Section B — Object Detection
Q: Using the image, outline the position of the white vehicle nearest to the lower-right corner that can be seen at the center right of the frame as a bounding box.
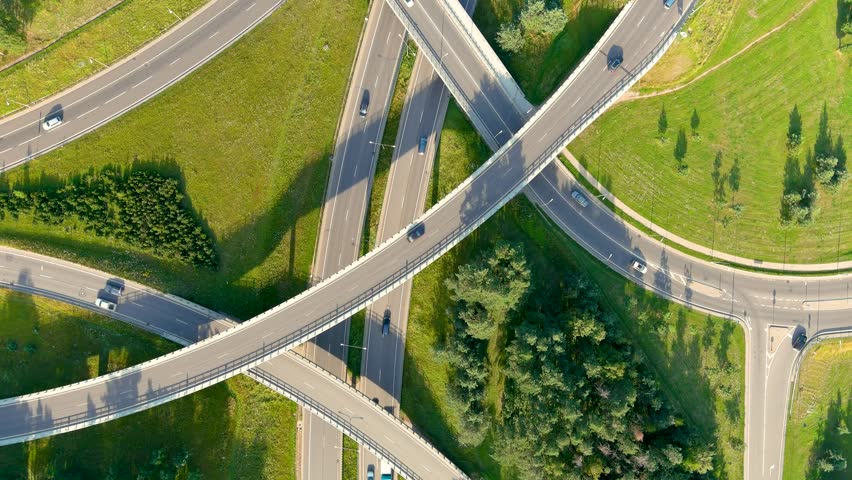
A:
[630,260,647,275]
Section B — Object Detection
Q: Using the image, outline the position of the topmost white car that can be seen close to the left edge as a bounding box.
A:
[42,117,63,131]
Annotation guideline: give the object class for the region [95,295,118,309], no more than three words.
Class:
vehicle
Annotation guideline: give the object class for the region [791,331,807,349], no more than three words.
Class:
car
